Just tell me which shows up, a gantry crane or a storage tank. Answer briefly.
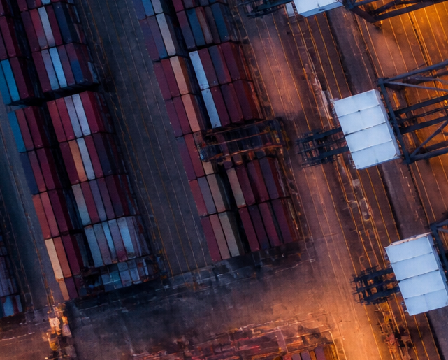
gantry crane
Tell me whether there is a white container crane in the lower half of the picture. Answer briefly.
No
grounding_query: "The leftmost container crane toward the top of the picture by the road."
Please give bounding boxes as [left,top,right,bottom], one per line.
[198,108,307,169]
